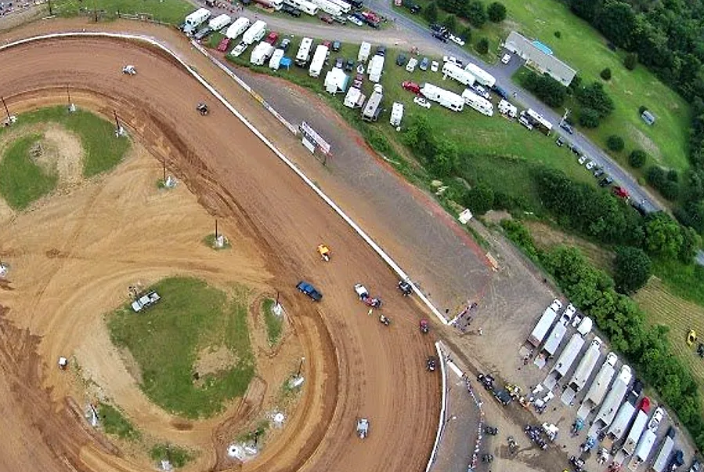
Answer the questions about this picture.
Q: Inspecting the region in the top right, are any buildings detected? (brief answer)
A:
Yes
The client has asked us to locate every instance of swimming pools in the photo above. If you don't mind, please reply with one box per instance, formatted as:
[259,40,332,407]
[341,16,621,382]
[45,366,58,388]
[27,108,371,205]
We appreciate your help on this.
[532,37,556,54]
